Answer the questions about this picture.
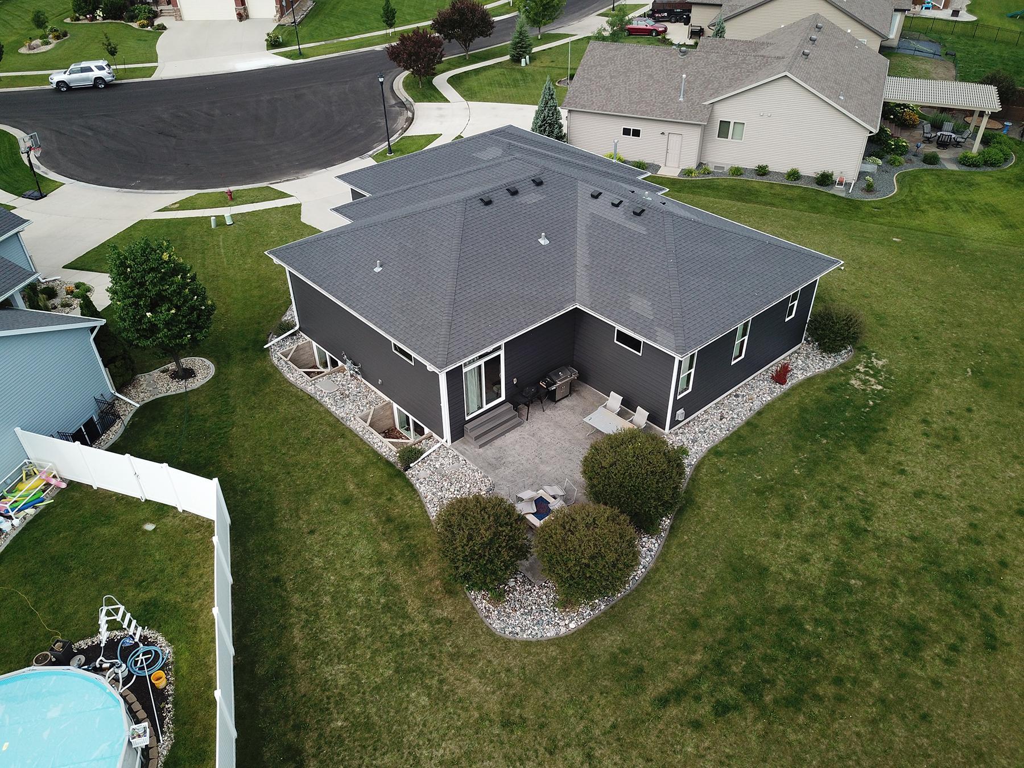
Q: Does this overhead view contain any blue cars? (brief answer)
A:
No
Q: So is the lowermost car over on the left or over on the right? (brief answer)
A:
left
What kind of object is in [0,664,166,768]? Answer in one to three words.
swimming pool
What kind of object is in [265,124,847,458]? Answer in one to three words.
house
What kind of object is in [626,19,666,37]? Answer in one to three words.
car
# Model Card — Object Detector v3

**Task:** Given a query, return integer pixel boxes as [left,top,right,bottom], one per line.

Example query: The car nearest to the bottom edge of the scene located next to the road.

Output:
[47,59,113,91]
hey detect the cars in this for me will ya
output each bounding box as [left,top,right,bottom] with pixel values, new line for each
[47,59,113,91]
[626,19,666,37]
